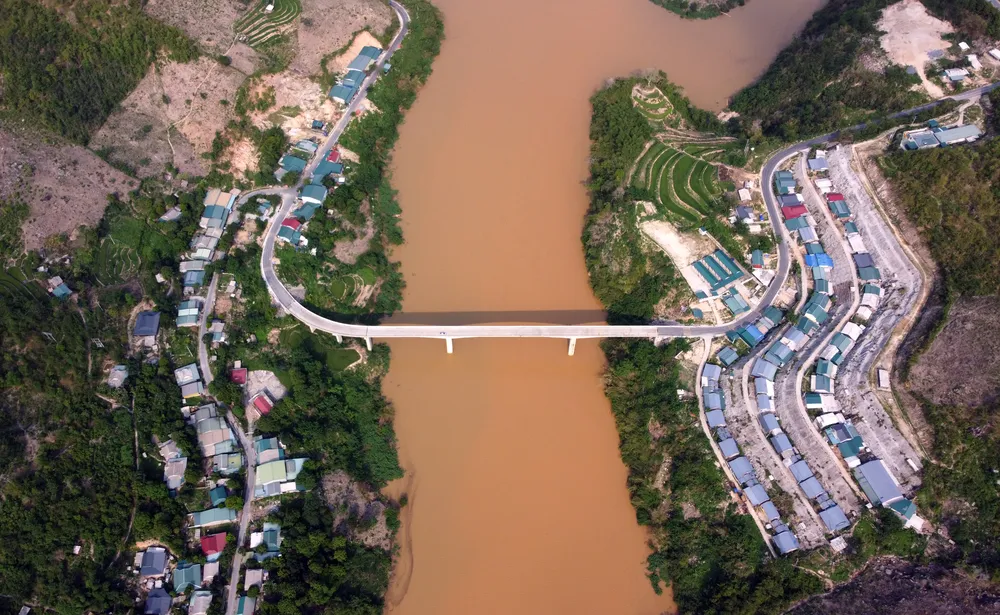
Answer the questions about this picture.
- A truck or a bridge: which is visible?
bridge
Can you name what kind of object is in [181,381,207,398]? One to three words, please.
house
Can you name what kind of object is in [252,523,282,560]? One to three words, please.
house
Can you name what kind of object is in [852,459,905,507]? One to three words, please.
building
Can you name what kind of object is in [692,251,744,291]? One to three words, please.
building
